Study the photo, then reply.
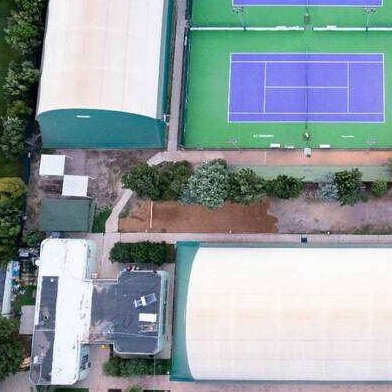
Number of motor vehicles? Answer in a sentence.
No motor vehicles are visible.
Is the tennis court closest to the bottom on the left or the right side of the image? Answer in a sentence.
The tennis court closest to the bottom is on the right side of the image.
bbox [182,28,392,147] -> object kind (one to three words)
tennis court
